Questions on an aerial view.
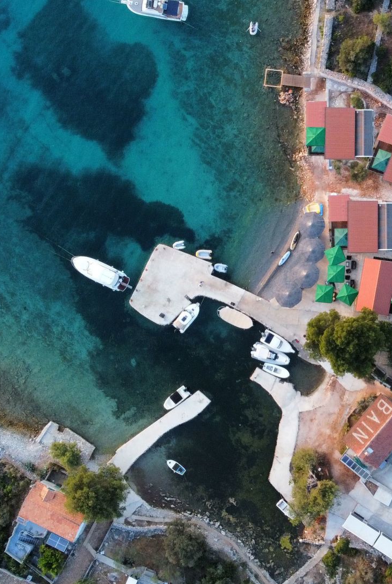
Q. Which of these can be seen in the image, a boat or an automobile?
boat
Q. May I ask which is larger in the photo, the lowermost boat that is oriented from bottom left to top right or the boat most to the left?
the boat most to the left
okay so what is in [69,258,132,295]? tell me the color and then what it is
white boat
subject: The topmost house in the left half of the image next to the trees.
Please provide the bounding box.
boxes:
[4,475,89,564]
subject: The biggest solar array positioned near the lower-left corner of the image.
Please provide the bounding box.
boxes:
[46,532,69,552]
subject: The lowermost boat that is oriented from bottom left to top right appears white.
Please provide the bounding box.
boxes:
[163,385,191,408]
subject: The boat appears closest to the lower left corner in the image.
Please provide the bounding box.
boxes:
[167,460,186,475]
